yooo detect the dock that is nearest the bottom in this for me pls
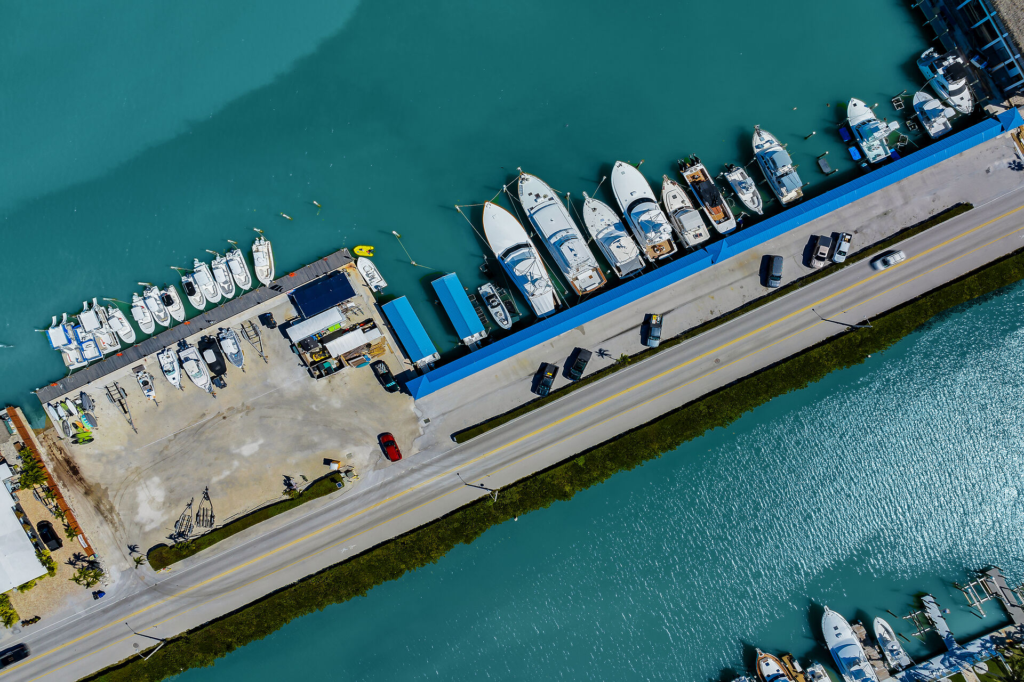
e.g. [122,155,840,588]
[851,624,889,681]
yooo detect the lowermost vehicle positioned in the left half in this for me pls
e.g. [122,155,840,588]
[0,644,30,668]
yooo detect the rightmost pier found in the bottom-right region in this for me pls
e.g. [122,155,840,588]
[978,562,1024,622]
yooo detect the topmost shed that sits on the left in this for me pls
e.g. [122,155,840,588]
[294,272,357,318]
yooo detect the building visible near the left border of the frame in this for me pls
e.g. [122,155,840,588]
[0,459,56,594]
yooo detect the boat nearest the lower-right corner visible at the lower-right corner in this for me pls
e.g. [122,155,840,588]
[874,618,913,675]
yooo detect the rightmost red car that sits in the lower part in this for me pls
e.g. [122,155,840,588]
[381,432,403,463]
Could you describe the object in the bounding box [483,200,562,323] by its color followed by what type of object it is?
white boat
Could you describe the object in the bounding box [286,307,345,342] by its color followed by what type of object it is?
white shipping container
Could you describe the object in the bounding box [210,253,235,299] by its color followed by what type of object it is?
white boat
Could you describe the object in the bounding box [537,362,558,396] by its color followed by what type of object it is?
black truck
